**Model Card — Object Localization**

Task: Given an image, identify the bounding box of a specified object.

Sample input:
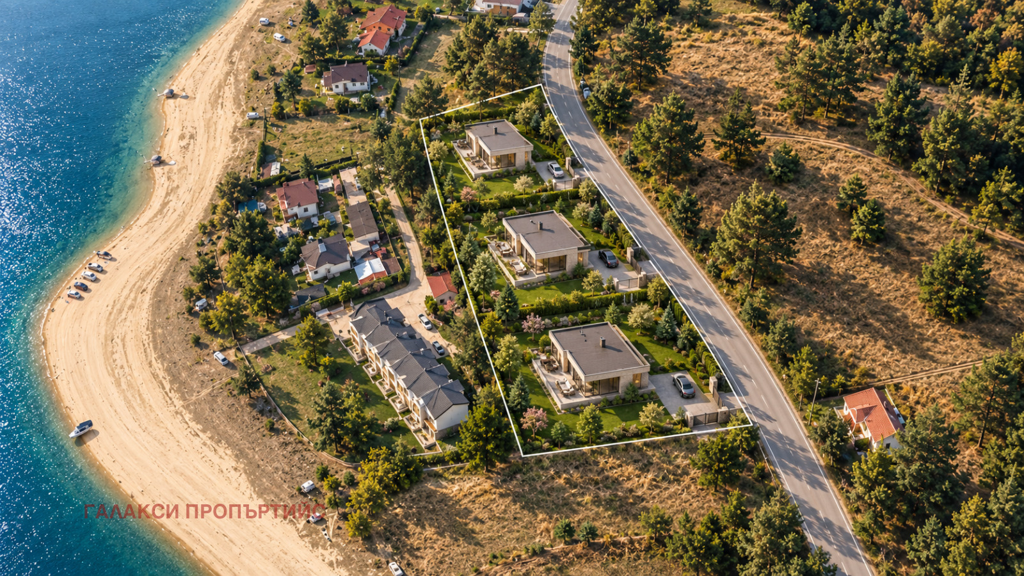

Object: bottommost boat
[67,416,94,433]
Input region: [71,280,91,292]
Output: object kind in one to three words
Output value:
vehicle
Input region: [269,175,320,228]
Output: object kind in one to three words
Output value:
house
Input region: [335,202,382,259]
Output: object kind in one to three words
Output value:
house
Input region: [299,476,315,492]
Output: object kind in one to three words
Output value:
vehicle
